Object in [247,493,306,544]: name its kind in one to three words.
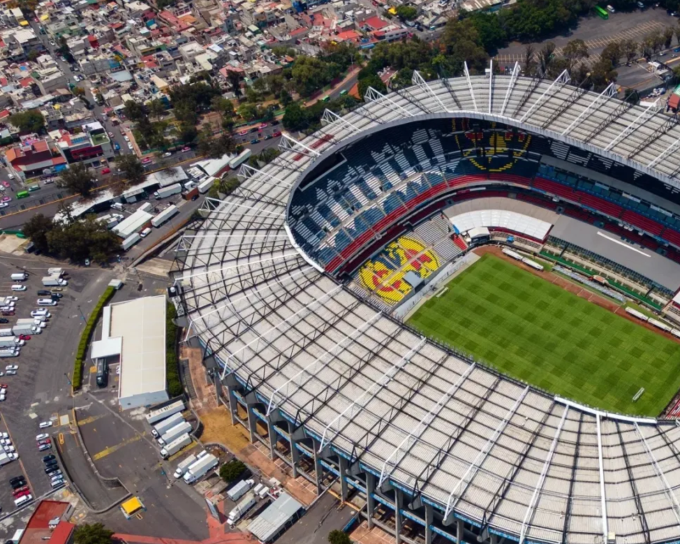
shed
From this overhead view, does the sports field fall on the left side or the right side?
right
